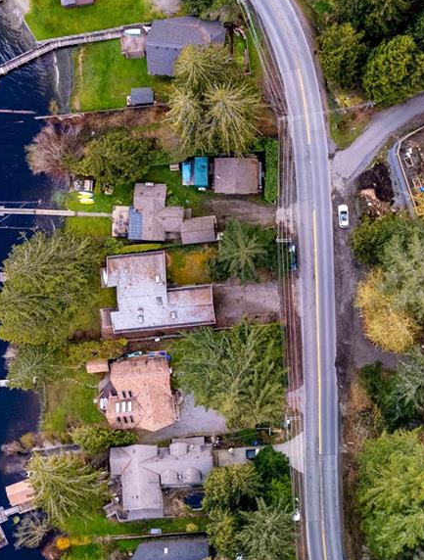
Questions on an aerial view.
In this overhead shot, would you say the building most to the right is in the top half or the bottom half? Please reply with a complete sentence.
The building most to the right is in the top half of the image.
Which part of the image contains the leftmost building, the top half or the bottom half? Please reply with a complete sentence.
The leftmost building is in the bottom half of the image.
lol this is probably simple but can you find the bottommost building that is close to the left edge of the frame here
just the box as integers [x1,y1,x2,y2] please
[6,477,37,506]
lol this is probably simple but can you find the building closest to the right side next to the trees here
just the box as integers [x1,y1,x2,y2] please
[214,155,259,197]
